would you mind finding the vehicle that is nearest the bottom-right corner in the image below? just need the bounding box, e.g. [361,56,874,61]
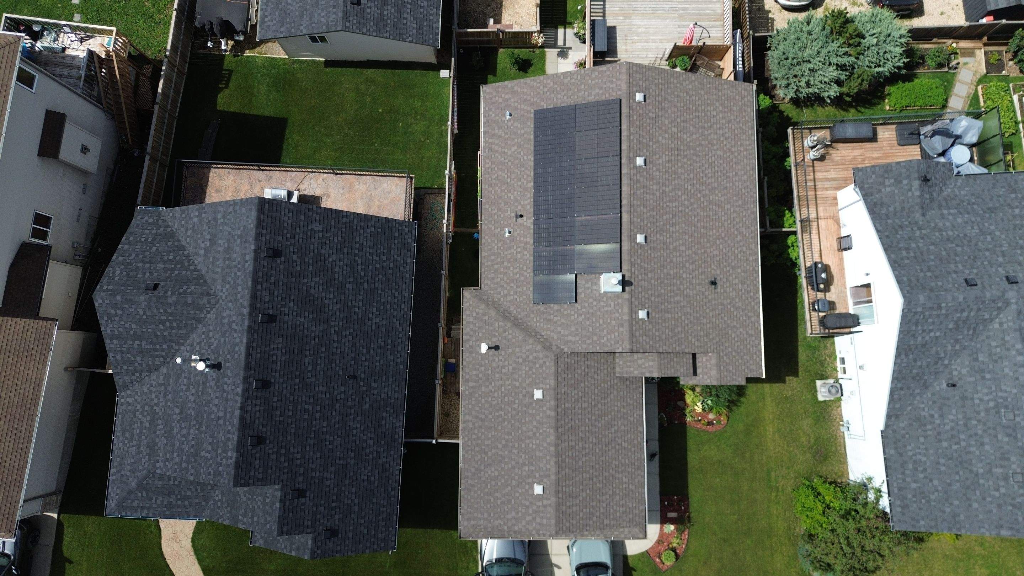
[564,541,621,576]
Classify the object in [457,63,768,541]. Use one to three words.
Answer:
house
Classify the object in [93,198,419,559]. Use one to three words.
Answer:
house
